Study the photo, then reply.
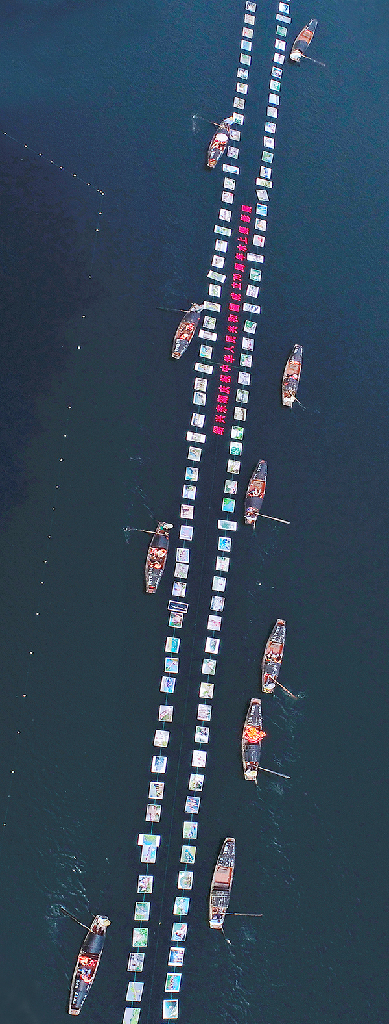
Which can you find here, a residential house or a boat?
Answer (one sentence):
Of the two, only a boat appears.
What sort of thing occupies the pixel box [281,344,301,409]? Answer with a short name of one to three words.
boat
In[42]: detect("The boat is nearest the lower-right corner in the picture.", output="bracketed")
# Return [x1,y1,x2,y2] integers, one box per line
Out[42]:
[210,836,234,929]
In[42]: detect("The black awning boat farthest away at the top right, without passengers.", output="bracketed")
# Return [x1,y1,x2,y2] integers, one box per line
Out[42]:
[290,18,318,65]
